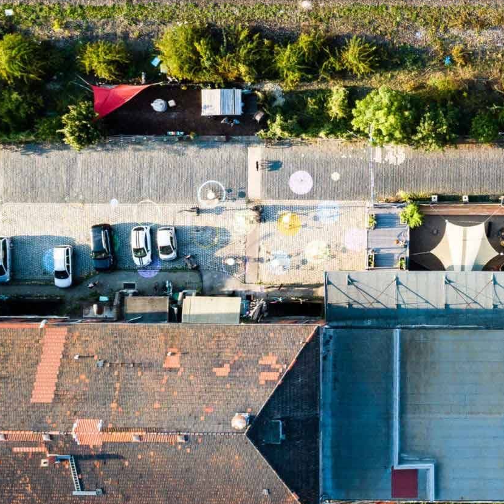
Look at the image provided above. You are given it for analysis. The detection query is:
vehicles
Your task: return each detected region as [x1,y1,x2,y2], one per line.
[0,237,13,283]
[88,223,117,271]
[154,226,179,261]
[128,226,155,268]
[49,245,74,288]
